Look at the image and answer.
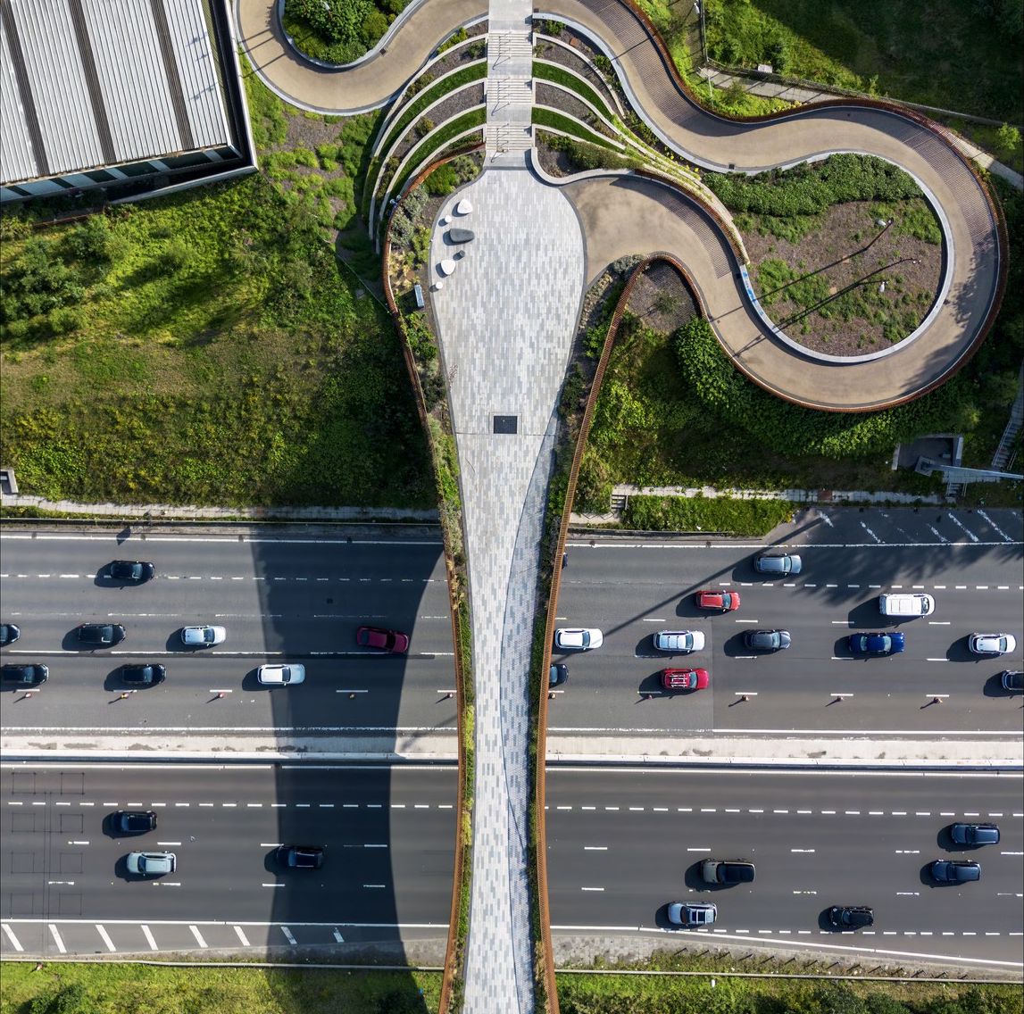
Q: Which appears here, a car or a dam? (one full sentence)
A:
Visible in the photo is a car.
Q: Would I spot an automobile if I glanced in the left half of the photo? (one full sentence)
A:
Yes, an automobile is visible in the left half of the photo.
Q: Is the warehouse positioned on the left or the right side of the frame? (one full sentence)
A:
It is on the left.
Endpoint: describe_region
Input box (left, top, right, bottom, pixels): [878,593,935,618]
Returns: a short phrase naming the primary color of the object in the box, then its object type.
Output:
white vehicle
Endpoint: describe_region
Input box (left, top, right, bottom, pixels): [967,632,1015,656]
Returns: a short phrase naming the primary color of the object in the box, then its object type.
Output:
white car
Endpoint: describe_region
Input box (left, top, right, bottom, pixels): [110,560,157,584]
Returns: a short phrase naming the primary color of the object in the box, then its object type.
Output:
black car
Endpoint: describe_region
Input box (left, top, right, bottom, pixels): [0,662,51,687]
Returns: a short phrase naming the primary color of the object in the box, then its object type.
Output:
black car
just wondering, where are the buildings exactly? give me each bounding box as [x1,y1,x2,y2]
[0,0,251,220]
